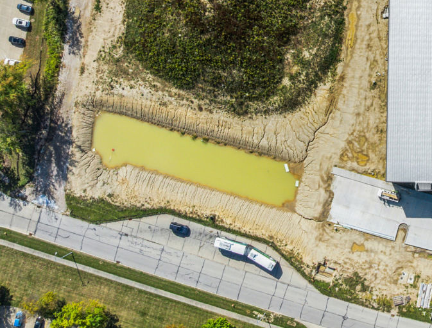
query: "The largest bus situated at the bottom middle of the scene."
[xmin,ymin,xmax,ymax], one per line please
[210,239,277,274]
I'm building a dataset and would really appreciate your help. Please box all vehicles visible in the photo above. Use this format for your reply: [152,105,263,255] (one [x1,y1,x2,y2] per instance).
[18,4,34,13]
[210,239,277,274]
[169,224,190,234]
[13,18,31,28]
[5,58,22,66]
[379,190,400,202]
[35,317,45,328]
[14,310,25,327]
[9,36,27,45]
